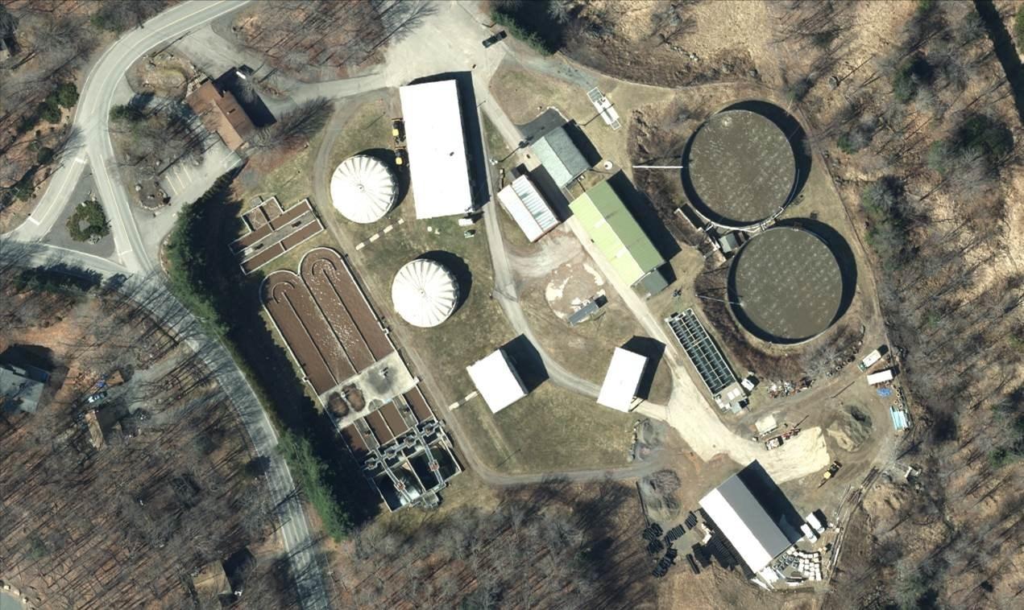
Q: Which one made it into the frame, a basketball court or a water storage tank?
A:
water storage tank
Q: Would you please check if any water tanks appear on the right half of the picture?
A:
Yes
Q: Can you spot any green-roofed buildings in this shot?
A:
Yes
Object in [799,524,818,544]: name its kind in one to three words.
vehicle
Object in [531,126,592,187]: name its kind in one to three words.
building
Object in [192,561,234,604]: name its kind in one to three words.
house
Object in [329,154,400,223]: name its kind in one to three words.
storage tank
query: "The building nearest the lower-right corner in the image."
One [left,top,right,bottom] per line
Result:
[699,475,793,574]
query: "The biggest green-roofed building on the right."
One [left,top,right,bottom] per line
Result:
[569,180,668,286]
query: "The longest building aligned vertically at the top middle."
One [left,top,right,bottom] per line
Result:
[400,79,475,219]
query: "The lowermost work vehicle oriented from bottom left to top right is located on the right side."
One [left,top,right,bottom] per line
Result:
[815,458,843,486]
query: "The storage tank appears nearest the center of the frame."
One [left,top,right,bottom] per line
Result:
[390,258,461,327]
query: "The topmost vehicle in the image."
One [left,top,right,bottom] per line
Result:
[482,31,504,46]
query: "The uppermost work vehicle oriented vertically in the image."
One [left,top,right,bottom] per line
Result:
[390,115,402,137]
